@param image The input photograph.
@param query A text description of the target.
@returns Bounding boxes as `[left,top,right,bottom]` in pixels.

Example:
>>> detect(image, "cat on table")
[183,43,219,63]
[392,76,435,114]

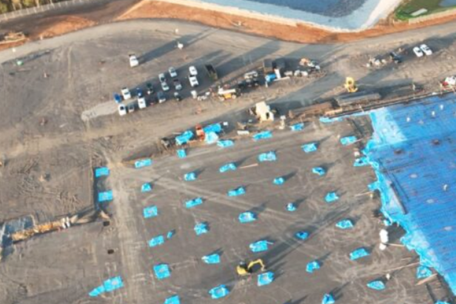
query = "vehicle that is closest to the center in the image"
[195,122,212,137]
